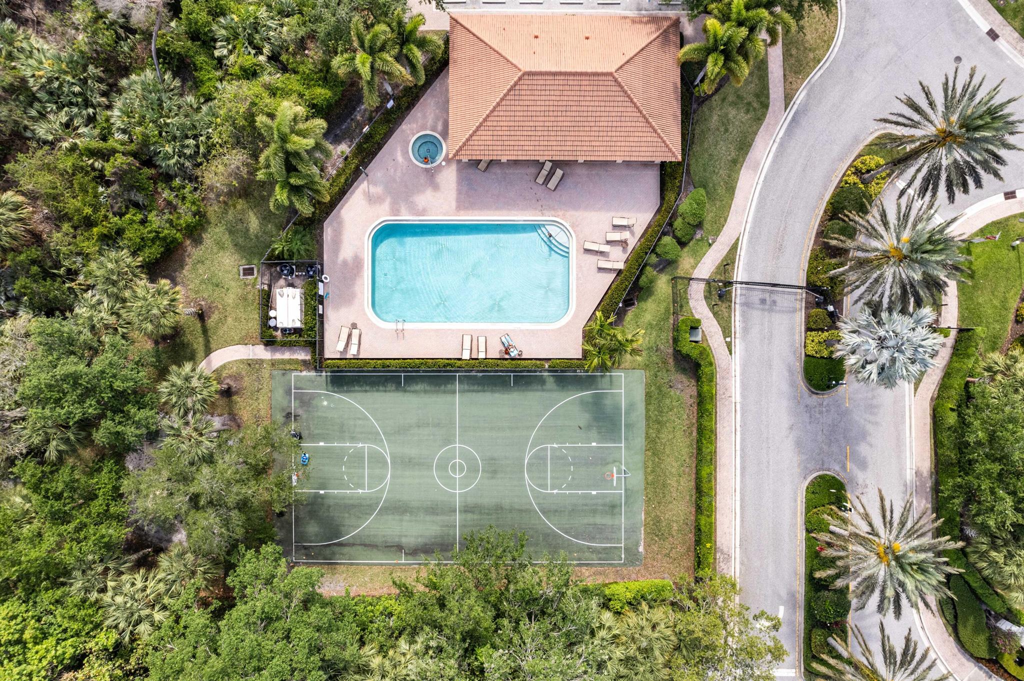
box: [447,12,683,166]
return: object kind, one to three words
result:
building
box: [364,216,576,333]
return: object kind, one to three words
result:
swimming pool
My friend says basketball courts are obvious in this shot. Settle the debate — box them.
[272,370,645,567]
